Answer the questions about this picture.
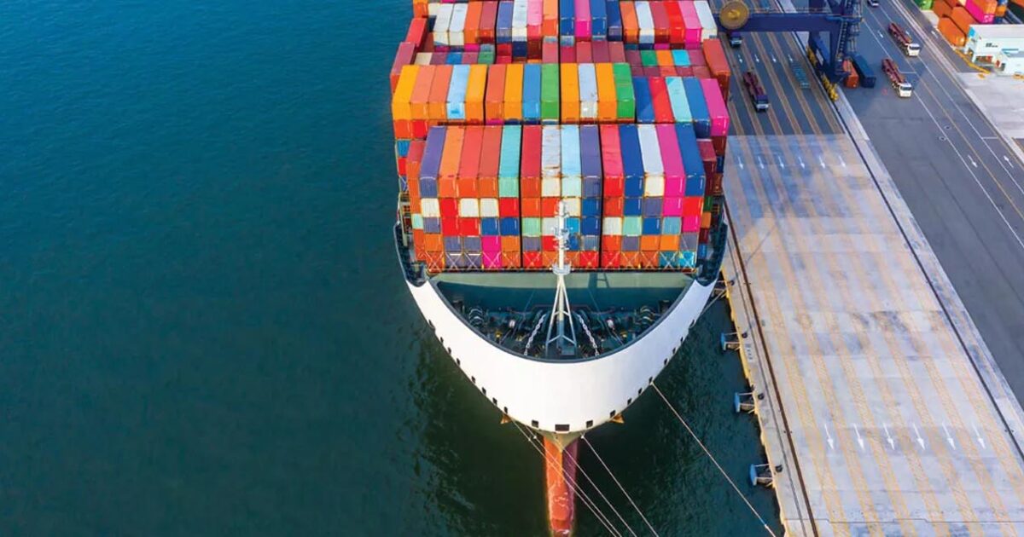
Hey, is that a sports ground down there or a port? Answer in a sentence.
What you see here is a port.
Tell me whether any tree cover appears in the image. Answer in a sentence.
No, the picture contains no tree cover.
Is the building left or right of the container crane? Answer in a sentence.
The building can be seen on the right of the container crane.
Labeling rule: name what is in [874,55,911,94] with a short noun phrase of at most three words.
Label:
truck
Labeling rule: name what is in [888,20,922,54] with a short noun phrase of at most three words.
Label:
truck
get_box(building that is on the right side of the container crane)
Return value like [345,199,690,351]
[964,16,1024,75]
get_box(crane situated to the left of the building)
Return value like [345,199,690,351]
[699,0,864,102]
